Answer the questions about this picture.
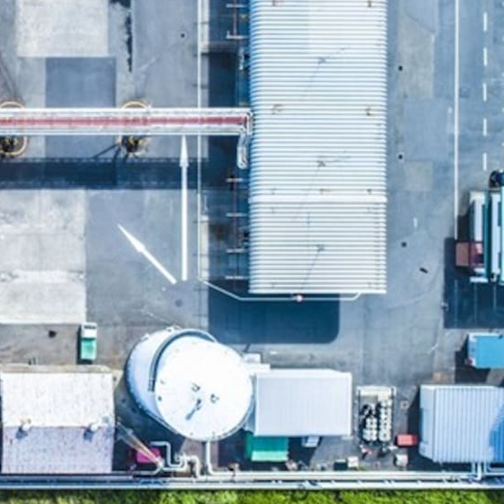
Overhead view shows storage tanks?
Yes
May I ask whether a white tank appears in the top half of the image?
No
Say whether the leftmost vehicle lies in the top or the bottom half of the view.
bottom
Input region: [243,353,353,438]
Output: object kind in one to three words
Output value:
shed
